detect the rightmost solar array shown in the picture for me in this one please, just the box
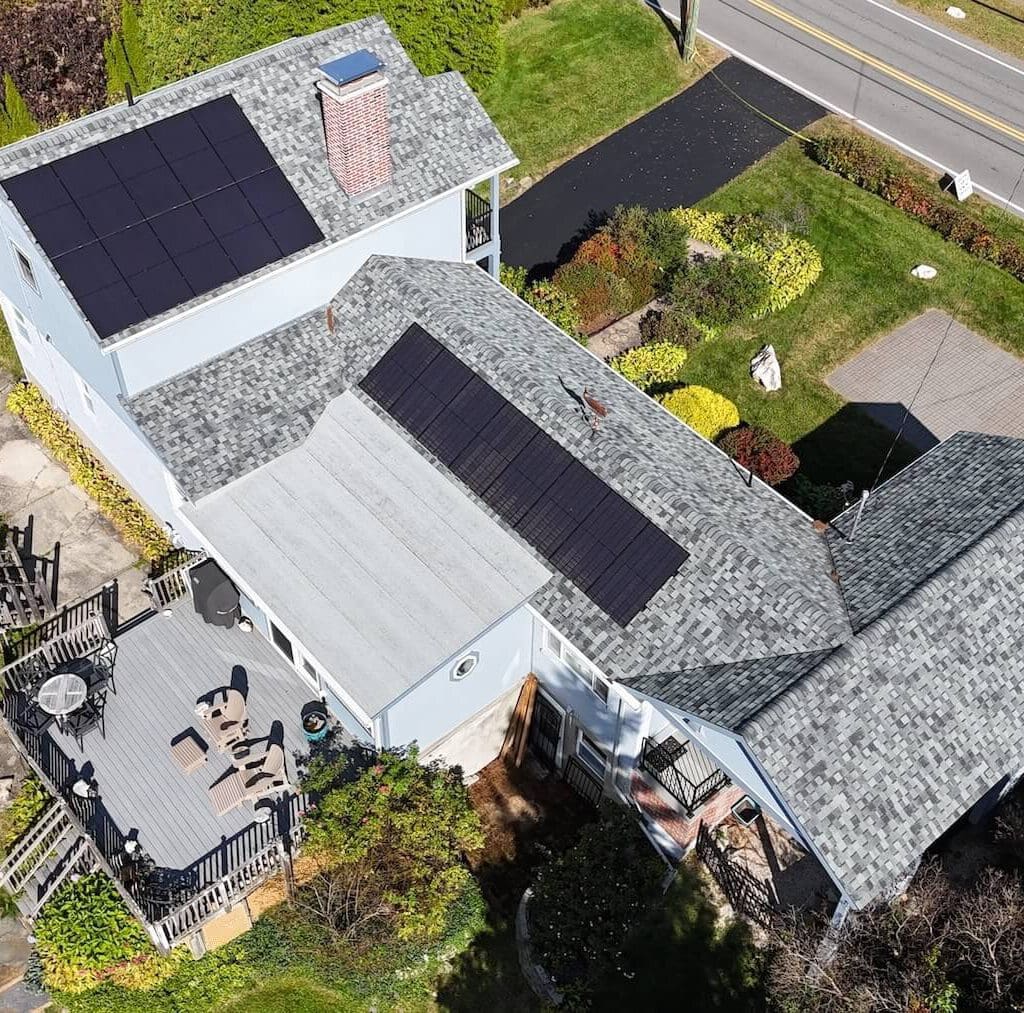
[355,326,688,629]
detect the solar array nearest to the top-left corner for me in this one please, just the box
[3,97,326,340]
